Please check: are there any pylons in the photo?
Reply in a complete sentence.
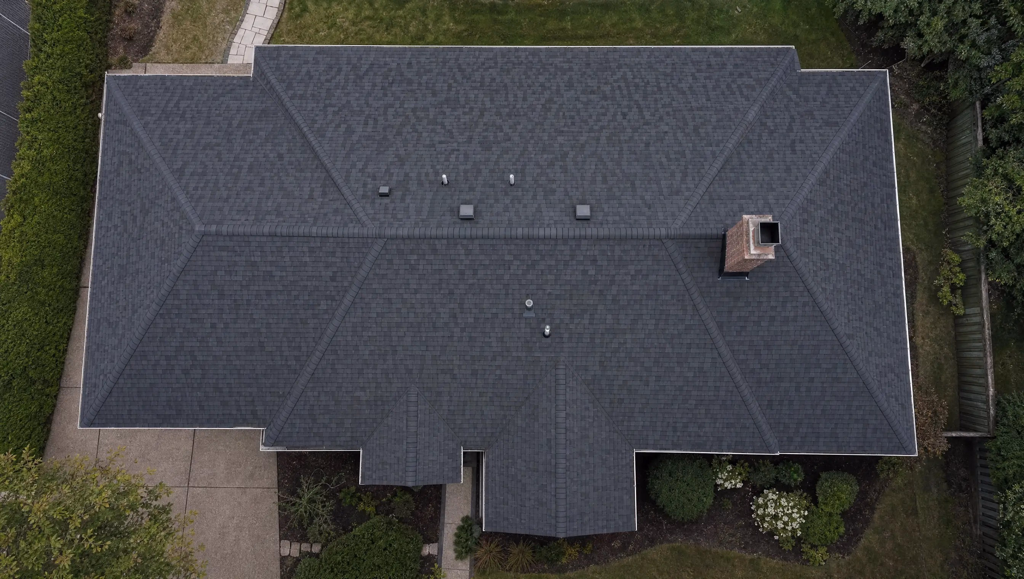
No, there's no pylon here.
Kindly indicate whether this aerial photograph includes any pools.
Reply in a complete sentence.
No, I find no pool anywhere in the image.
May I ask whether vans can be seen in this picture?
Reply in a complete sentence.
No, no van is visible in the view.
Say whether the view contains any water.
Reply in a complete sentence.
No, water can't be seen anywhere here.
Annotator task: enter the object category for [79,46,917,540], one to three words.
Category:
house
